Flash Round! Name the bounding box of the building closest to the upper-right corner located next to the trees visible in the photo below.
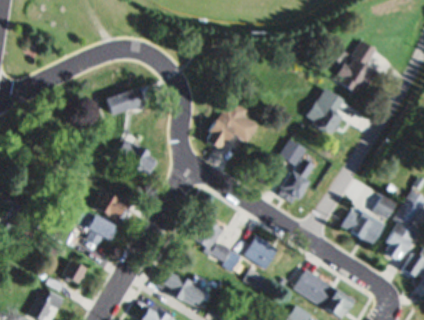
[335,40,380,90]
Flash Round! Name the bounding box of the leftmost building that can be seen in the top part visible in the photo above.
[106,89,143,116]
